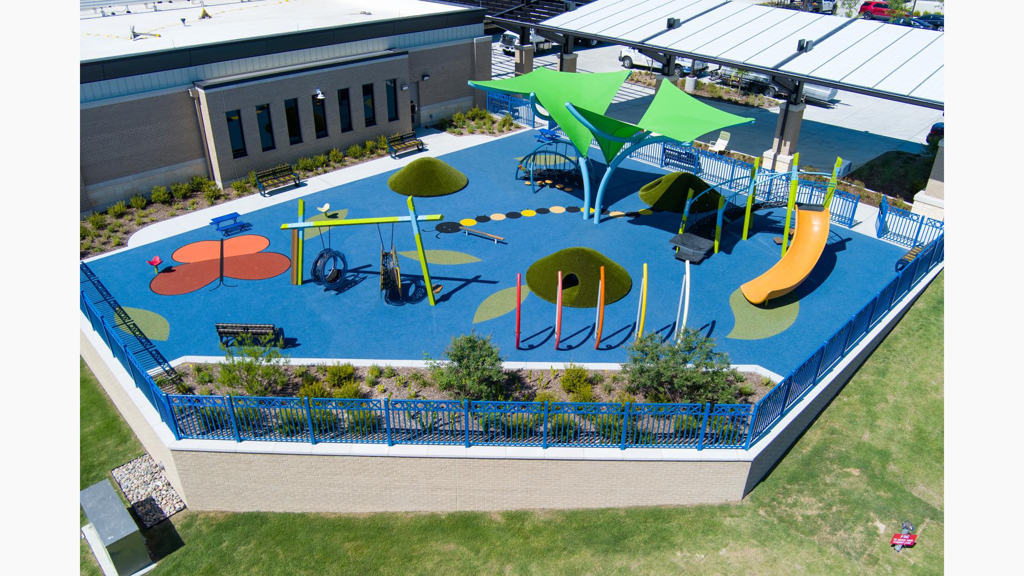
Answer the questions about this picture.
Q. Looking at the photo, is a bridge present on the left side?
No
